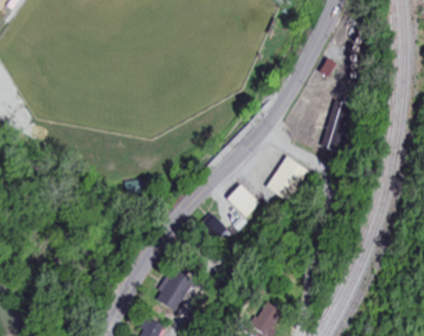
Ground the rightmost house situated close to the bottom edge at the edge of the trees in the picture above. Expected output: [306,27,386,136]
[252,303,280,336]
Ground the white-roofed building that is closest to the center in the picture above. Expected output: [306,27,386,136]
[227,184,258,214]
